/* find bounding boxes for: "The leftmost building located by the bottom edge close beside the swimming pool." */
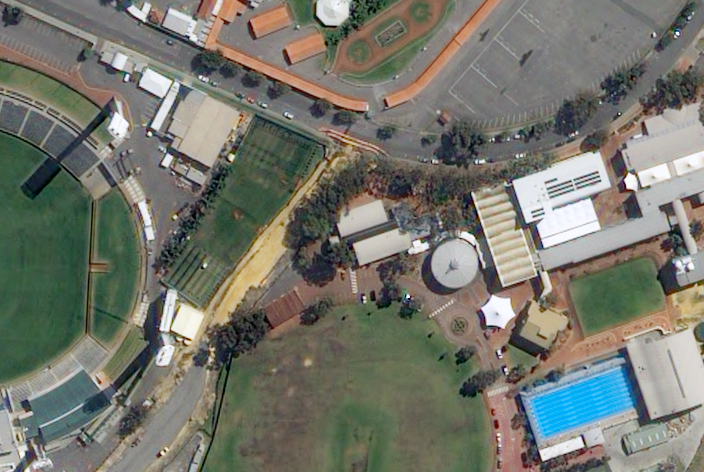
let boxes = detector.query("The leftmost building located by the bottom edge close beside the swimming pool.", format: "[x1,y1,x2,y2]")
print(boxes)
[538,436,586,461]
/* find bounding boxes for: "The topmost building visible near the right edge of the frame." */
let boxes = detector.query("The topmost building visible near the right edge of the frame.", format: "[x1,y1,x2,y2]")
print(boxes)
[634,97,704,143]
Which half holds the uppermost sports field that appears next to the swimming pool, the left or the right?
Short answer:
right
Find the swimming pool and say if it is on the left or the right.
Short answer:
right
